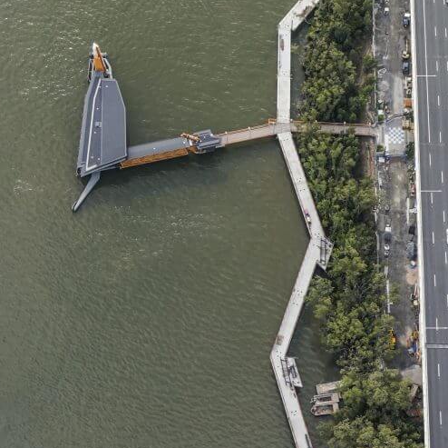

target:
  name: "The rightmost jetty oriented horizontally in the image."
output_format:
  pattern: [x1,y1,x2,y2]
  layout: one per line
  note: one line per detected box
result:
[217,125,275,148]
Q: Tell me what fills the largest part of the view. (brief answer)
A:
water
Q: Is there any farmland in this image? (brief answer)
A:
No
